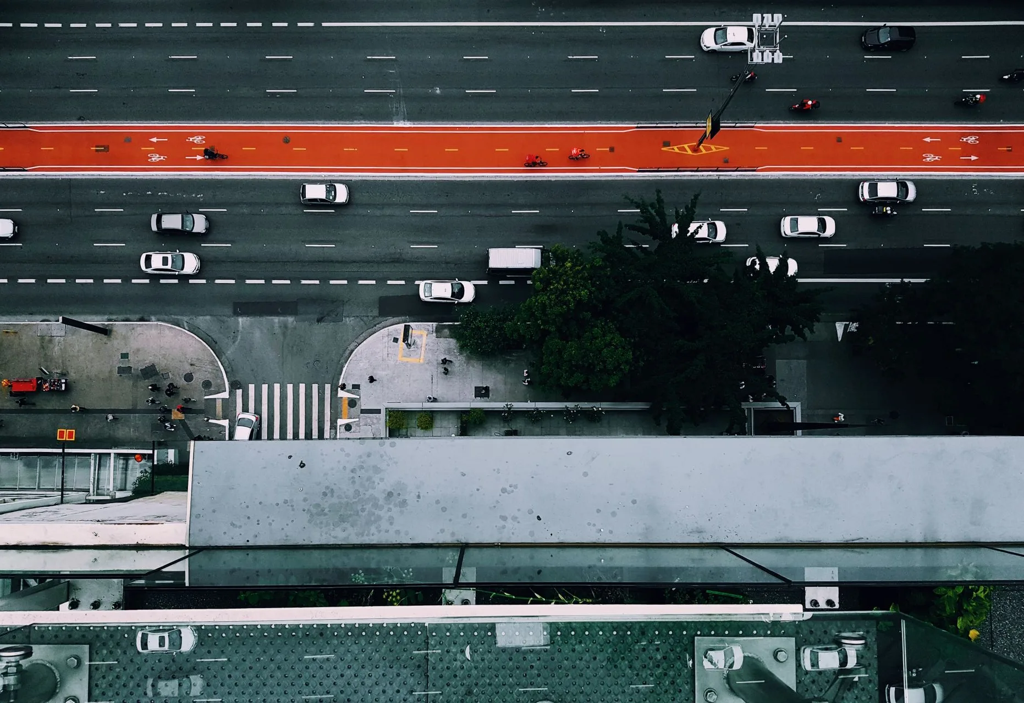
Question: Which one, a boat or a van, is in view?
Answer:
van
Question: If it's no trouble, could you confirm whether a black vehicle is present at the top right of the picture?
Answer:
Yes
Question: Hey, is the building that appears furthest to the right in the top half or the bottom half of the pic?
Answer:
bottom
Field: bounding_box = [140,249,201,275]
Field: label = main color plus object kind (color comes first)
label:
white car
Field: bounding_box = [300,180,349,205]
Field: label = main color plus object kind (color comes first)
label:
white car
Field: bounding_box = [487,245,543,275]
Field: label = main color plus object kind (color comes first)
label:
white van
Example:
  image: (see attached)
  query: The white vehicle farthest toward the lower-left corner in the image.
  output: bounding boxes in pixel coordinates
[231,411,259,440]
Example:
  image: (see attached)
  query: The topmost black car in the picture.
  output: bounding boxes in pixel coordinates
[861,24,916,52]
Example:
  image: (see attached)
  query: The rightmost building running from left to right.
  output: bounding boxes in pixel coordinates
[185,435,1024,563]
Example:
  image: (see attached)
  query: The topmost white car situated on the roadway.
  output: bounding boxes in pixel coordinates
[700,25,755,52]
